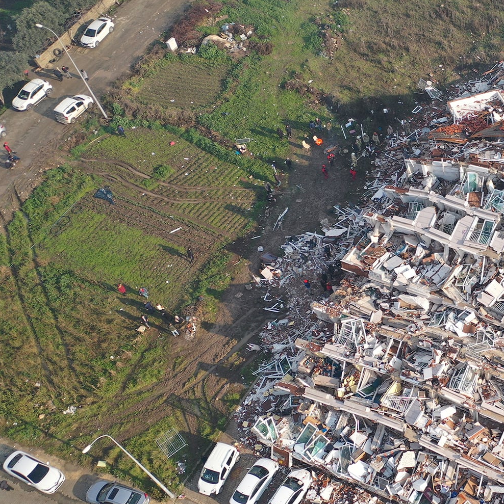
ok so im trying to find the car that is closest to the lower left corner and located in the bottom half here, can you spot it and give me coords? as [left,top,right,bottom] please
[5,454,64,496]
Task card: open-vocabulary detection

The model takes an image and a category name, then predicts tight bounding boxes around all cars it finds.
[54,98,97,127]
[5,454,64,496]
[196,442,242,503]
[88,483,151,504]
[271,471,313,504]
[229,460,279,504]
[10,80,56,113]
[77,19,115,50]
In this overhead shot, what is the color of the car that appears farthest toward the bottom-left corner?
white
